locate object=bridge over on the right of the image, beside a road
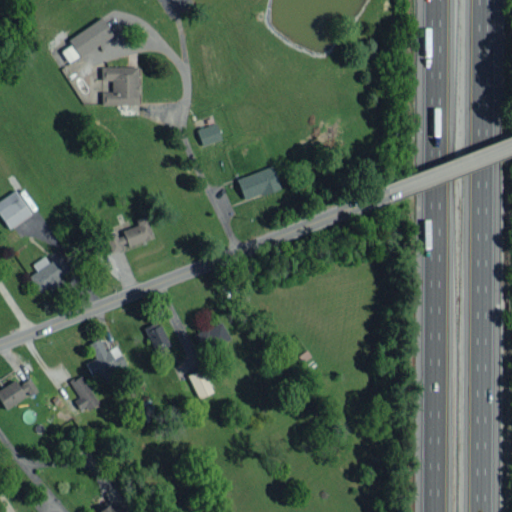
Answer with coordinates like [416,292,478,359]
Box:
[382,138,512,202]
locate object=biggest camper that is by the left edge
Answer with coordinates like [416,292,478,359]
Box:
[20,190,38,212]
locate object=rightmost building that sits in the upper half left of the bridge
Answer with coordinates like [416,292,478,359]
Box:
[240,168,282,200]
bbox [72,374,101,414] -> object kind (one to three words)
house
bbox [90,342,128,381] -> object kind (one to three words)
house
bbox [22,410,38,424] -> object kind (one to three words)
swimming pool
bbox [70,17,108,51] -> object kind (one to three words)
building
